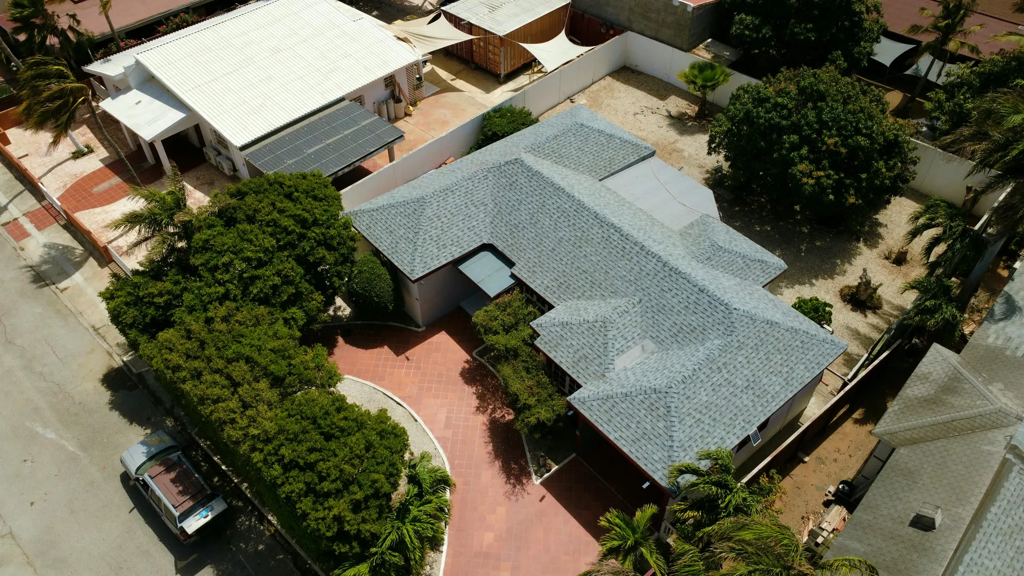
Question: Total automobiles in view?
1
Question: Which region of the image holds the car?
bottom left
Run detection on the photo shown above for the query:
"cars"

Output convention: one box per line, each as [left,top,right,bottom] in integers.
[125,428,235,545]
